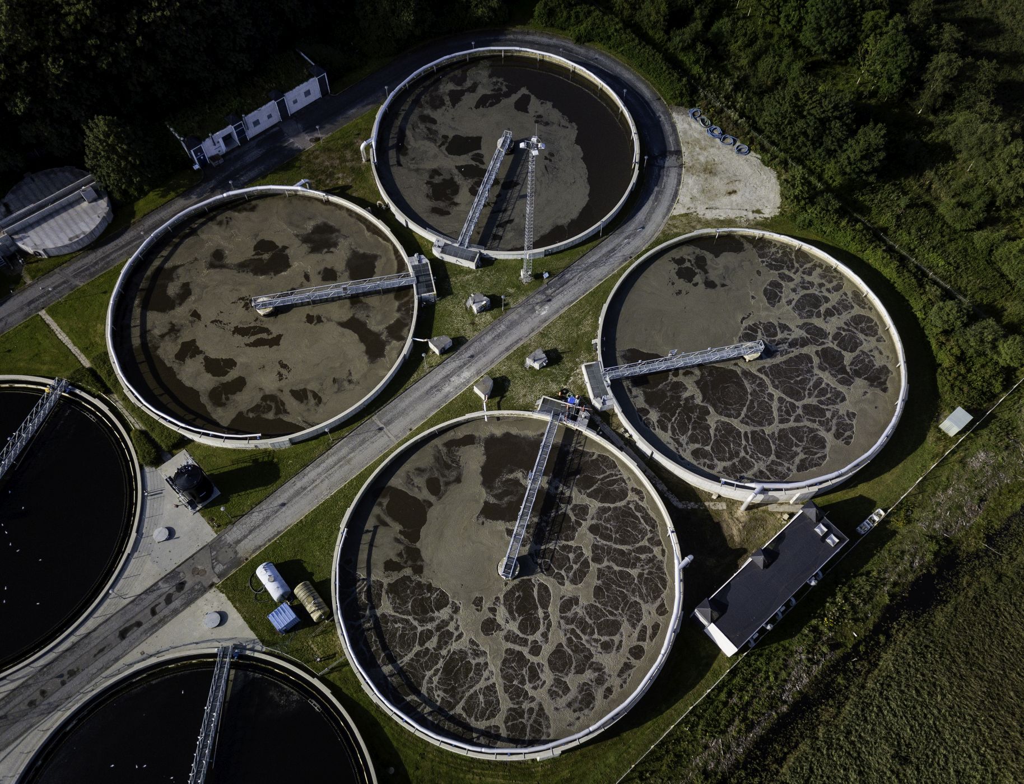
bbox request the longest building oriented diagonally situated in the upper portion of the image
[177,48,331,170]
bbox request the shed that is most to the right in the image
[934,405,974,442]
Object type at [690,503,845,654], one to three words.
building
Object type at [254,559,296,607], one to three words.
storage tank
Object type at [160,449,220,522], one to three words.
storage tank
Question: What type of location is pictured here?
industrial area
